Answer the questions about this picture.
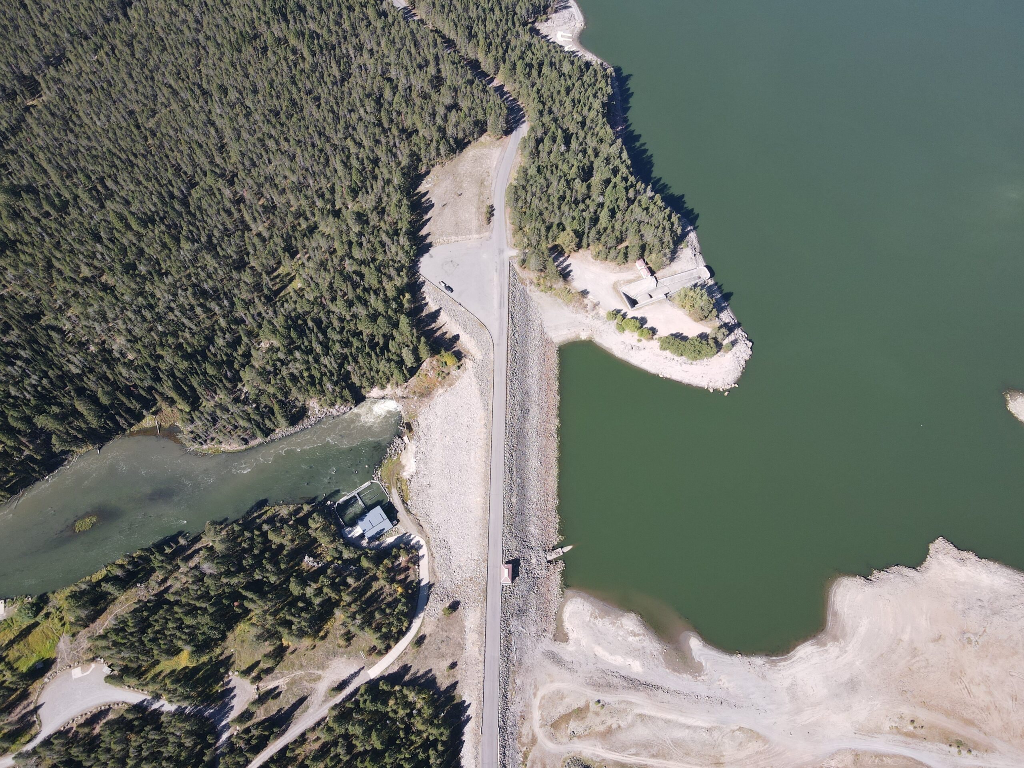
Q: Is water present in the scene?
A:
Yes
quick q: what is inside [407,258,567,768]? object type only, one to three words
dam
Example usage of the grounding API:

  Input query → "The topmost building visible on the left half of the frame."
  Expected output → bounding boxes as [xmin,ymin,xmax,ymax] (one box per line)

[357,507,392,543]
